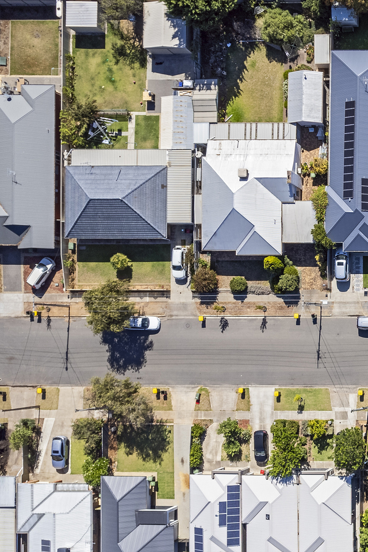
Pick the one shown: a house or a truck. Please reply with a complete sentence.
The image shows a house.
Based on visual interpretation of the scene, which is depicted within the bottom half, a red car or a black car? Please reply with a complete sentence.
The feature located within the bottom half is a black car.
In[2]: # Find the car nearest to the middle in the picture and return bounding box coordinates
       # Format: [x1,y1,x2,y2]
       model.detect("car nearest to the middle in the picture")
[169,247,188,280]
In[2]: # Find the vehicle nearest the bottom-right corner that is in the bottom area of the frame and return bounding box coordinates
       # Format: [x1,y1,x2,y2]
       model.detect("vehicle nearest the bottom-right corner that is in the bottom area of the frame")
[252,430,269,466]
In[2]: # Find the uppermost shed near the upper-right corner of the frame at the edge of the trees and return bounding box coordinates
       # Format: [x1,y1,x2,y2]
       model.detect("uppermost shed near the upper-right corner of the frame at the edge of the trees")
[331,7,360,29]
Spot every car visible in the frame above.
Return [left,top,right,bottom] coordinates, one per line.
[25,256,57,291]
[50,435,70,469]
[252,430,269,466]
[357,316,368,330]
[169,247,188,280]
[332,248,350,281]
[123,315,162,331]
